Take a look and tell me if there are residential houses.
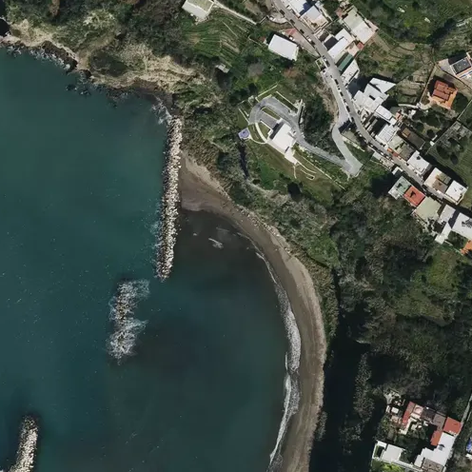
Yes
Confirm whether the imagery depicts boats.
No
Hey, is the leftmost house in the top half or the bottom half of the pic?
top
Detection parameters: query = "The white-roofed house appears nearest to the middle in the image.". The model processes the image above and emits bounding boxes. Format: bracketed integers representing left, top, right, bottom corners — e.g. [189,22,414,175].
[270,123,298,166]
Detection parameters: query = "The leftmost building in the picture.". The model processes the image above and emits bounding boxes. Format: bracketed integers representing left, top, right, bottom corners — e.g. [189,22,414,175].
[181,0,214,20]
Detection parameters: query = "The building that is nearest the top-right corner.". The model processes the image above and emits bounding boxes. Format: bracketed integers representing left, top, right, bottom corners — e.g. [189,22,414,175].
[439,56,472,77]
